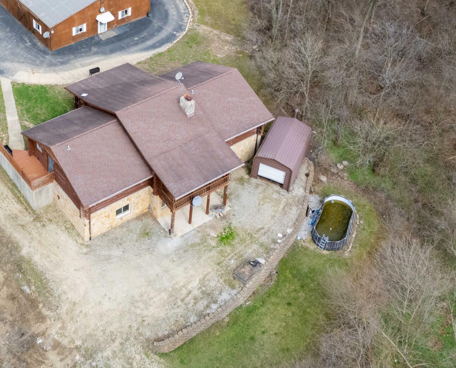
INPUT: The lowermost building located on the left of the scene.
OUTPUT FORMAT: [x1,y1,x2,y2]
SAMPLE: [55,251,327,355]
[22,60,275,248]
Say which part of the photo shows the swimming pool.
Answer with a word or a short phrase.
right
